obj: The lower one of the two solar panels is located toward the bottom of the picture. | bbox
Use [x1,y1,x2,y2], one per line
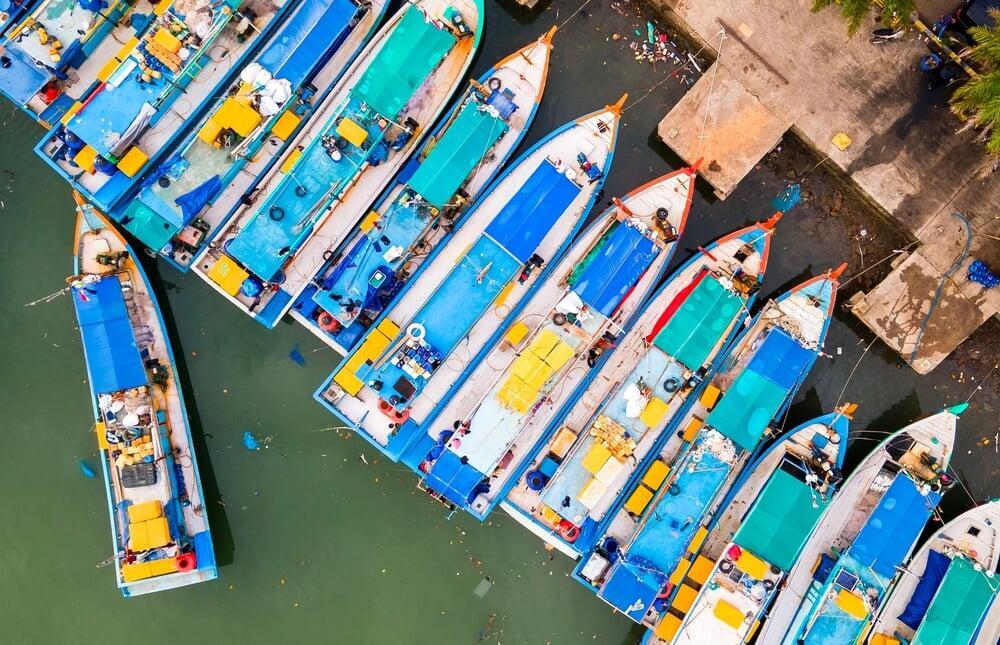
[834,569,857,592]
